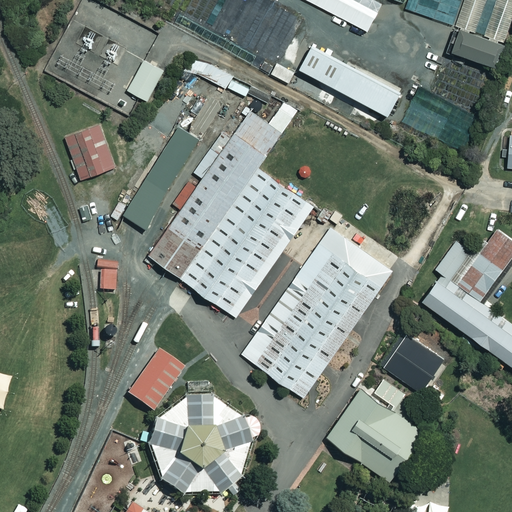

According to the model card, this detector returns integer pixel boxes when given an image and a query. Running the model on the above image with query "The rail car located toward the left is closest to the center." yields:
[134,323,147,344]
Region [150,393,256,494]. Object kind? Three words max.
building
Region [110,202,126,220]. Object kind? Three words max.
camper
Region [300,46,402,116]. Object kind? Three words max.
shed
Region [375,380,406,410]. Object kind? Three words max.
house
